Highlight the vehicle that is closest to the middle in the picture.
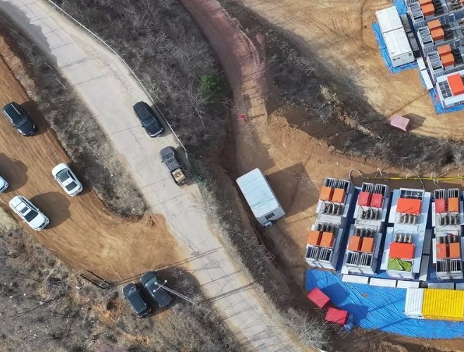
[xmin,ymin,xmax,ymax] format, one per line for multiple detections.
[155,143,196,193]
